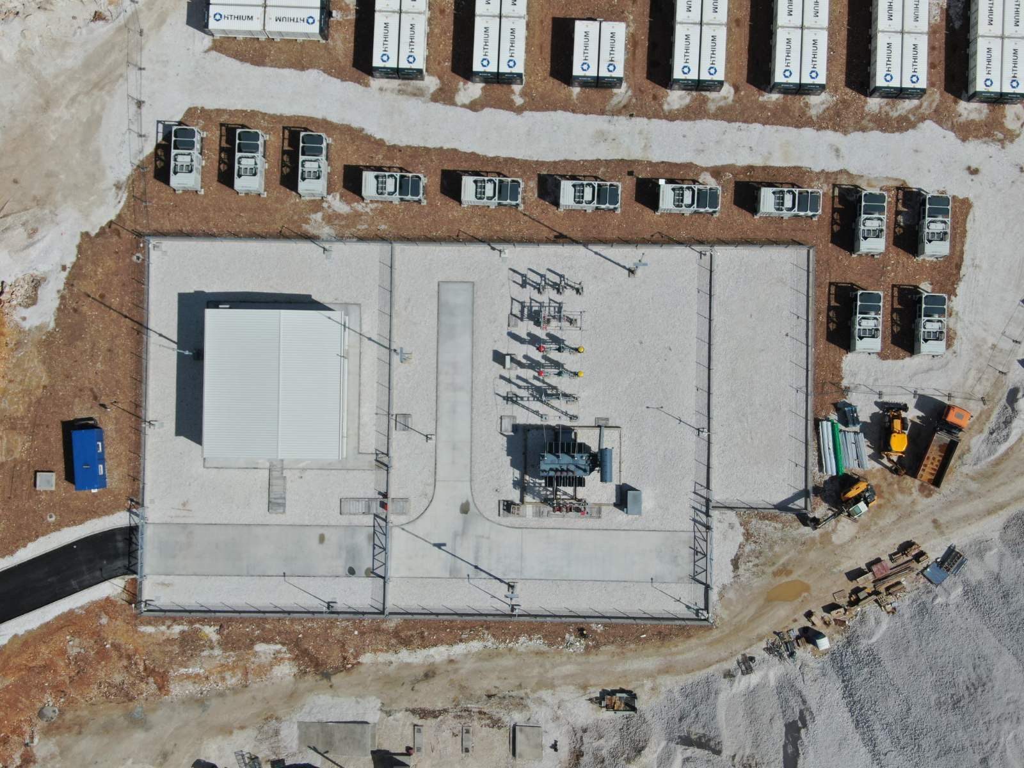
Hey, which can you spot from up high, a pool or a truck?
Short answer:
truck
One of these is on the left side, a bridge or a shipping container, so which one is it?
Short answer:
shipping container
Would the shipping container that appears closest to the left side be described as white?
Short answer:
No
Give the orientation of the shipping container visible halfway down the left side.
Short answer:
up and down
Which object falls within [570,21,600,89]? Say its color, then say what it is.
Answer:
white shipping container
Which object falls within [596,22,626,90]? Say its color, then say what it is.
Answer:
white shipping container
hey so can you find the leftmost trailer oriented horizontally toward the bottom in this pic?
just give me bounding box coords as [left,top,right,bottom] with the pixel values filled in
[589,690,638,714]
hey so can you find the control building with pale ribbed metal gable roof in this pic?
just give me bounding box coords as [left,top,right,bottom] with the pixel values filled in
[204,306,354,460]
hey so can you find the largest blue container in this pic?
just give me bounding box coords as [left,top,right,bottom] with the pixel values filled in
[72,421,108,491]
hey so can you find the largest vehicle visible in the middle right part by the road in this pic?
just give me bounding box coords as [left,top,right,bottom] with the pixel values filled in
[910,402,976,493]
